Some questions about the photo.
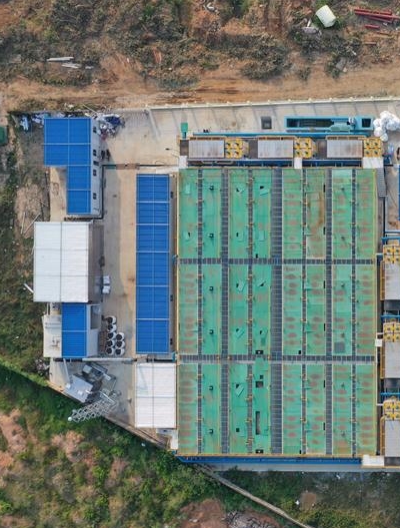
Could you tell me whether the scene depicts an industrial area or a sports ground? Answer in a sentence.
The area seen from above is an industrial area.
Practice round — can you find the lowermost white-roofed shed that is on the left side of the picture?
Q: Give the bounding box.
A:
[135,363,179,429]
